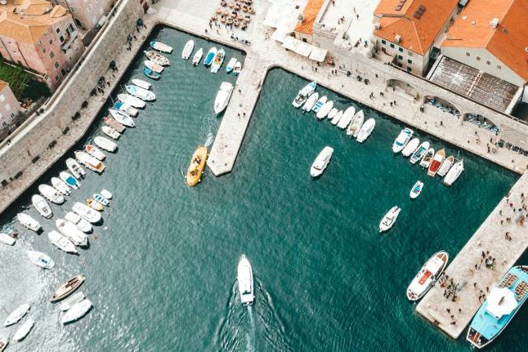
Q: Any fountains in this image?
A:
No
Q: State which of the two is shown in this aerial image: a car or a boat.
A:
boat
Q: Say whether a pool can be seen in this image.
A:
No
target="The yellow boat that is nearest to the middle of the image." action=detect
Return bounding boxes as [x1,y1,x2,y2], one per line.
[186,146,210,188]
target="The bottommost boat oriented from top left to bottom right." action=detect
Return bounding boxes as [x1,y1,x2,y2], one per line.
[25,248,54,268]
